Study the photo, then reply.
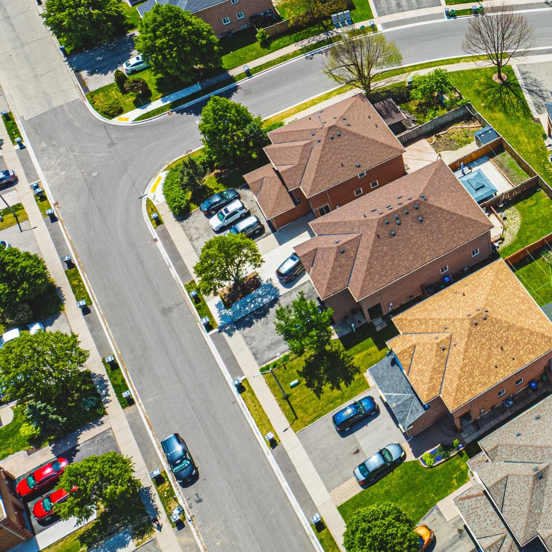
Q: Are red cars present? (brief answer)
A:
Yes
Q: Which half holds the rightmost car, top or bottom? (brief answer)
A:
bottom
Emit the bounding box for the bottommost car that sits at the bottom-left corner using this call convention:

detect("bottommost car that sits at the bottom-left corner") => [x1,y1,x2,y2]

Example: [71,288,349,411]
[31,489,69,522]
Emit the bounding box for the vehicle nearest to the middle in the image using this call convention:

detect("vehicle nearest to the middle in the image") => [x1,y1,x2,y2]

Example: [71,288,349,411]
[271,258,303,285]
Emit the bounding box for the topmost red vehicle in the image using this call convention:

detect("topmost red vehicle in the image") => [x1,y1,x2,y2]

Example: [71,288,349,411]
[16,458,63,497]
